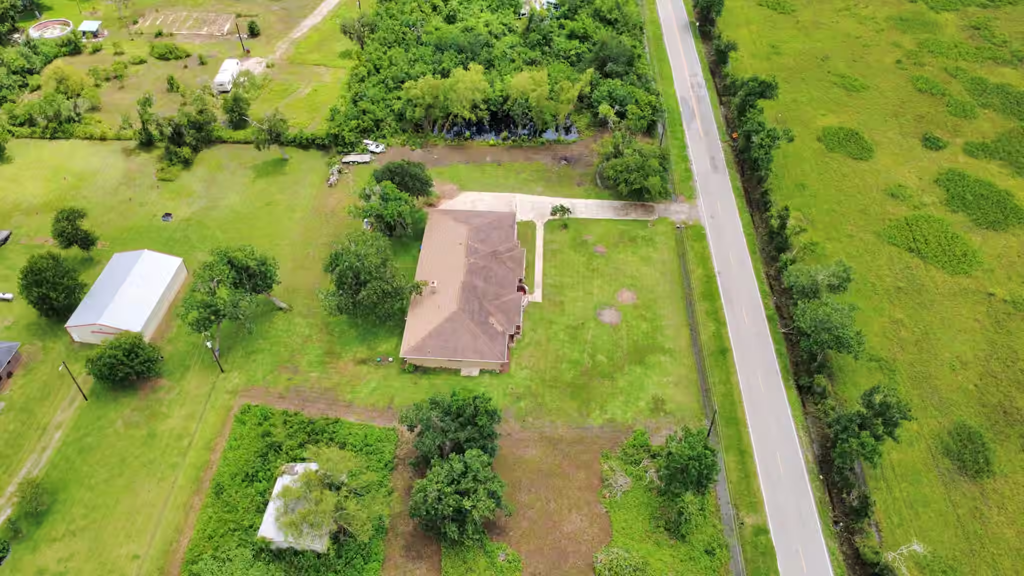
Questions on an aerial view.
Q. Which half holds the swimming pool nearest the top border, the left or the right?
left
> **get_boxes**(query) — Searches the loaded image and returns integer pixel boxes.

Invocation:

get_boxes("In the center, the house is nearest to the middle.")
[399,209,530,370]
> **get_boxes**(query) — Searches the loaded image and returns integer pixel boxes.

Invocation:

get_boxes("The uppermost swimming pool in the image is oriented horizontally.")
[23,16,74,42]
